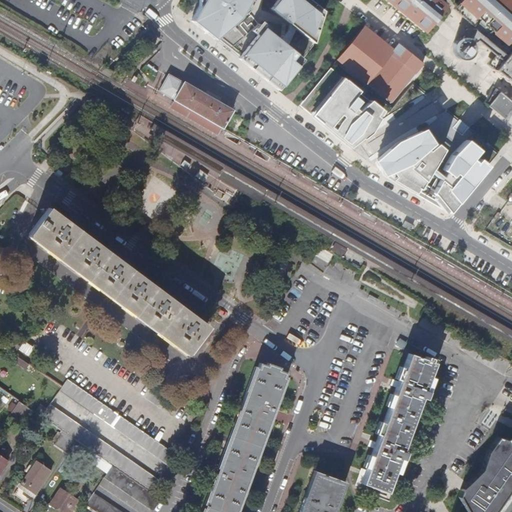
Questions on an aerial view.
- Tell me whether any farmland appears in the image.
No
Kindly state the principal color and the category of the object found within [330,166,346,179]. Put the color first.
white vehicle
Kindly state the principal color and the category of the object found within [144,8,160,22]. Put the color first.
white vehicle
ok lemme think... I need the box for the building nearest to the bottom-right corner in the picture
[454,436,512,512]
